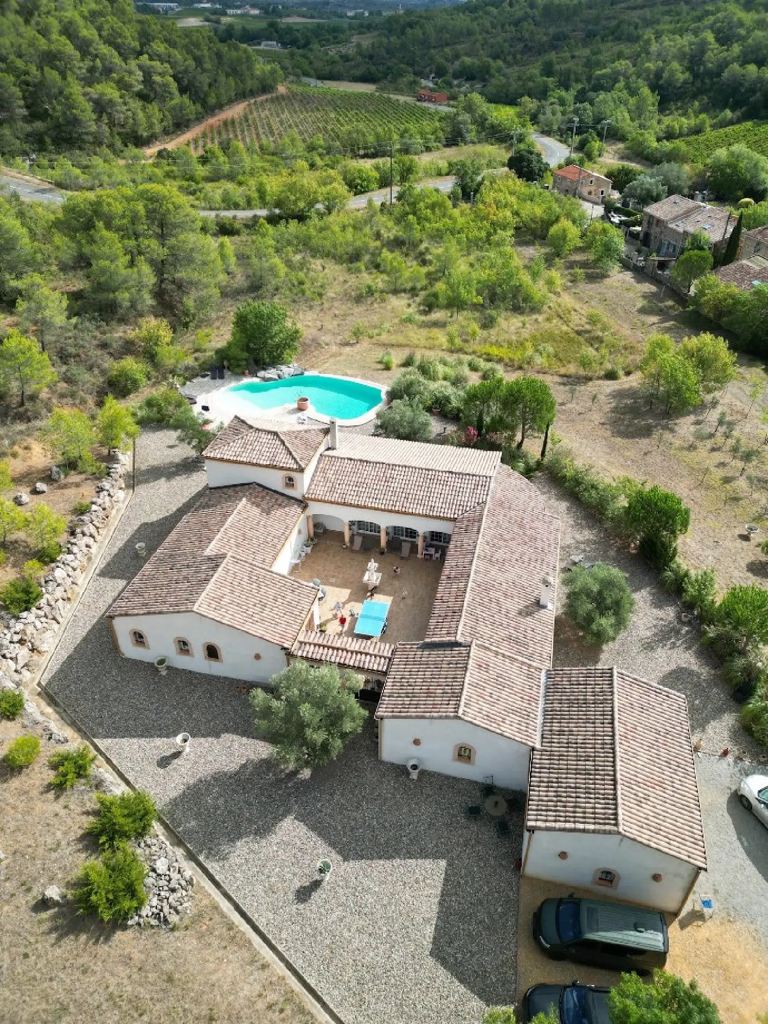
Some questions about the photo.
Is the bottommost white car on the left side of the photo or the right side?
right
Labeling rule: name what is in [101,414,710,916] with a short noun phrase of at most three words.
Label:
house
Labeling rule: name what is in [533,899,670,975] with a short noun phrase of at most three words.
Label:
van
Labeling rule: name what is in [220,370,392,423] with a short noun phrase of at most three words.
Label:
swimming pool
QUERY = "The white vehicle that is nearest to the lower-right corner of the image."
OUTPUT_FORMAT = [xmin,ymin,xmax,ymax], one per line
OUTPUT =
[737,774,768,835]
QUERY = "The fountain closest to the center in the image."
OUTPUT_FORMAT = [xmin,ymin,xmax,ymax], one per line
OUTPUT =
[360,567,381,597]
